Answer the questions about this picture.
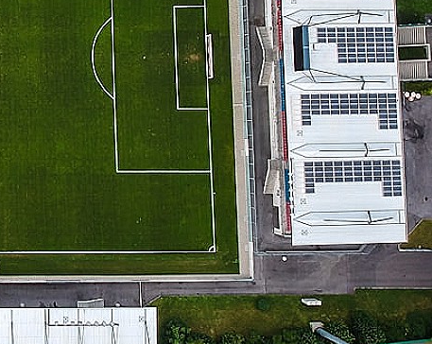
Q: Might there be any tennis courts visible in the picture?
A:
No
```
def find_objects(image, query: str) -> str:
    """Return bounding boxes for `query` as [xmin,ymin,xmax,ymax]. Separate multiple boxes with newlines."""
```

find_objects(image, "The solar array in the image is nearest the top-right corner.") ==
[317,27,392,62]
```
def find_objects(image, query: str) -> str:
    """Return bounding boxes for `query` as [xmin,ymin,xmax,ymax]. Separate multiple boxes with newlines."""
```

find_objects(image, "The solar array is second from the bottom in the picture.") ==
[300,92,394,128]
